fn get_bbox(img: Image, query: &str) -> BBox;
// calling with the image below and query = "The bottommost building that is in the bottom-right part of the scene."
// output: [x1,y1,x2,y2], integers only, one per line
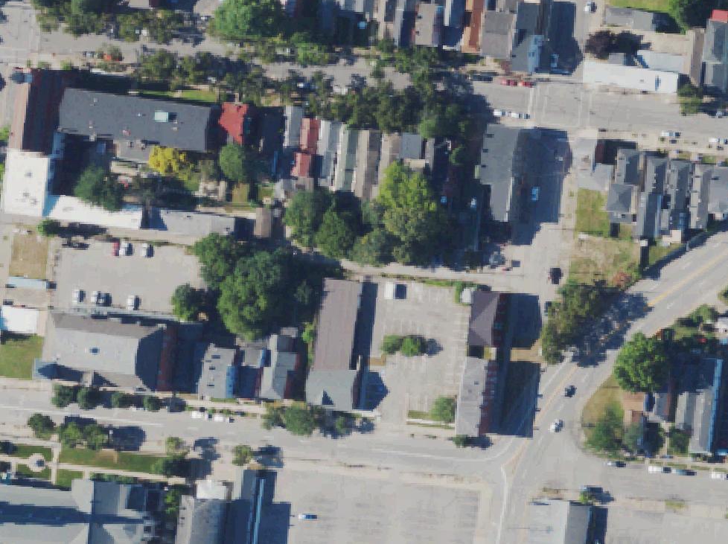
[526,495,595,544]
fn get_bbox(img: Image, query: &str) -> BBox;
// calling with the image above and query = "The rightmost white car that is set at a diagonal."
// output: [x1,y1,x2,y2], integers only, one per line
[550,417,563,434]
